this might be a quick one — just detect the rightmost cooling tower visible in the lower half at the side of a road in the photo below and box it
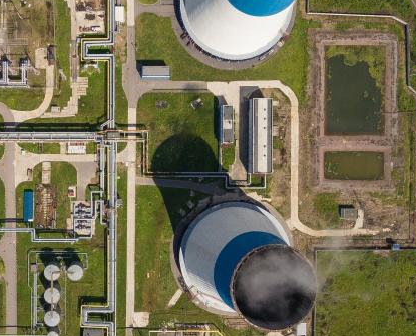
[169,190,319,332]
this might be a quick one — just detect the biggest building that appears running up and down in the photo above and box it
[248,97,272,173]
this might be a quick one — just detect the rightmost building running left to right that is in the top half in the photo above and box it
[142,65,170,77]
